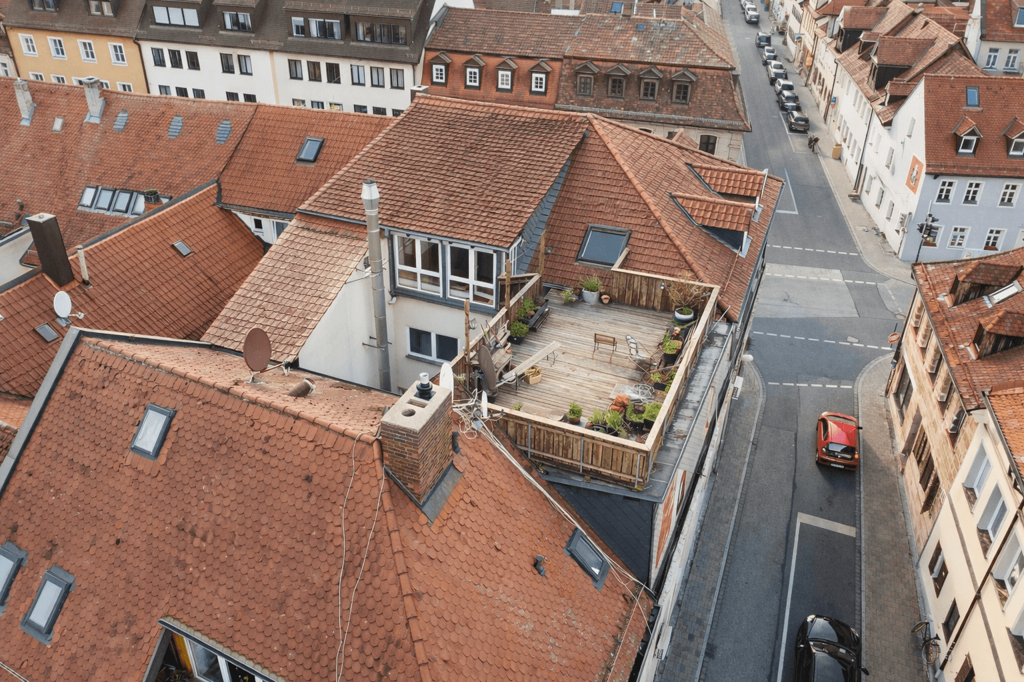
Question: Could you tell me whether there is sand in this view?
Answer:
No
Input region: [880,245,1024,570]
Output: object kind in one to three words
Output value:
house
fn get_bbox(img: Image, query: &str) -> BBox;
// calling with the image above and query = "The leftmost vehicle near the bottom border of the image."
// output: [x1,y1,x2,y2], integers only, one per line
[799,611,871,682]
